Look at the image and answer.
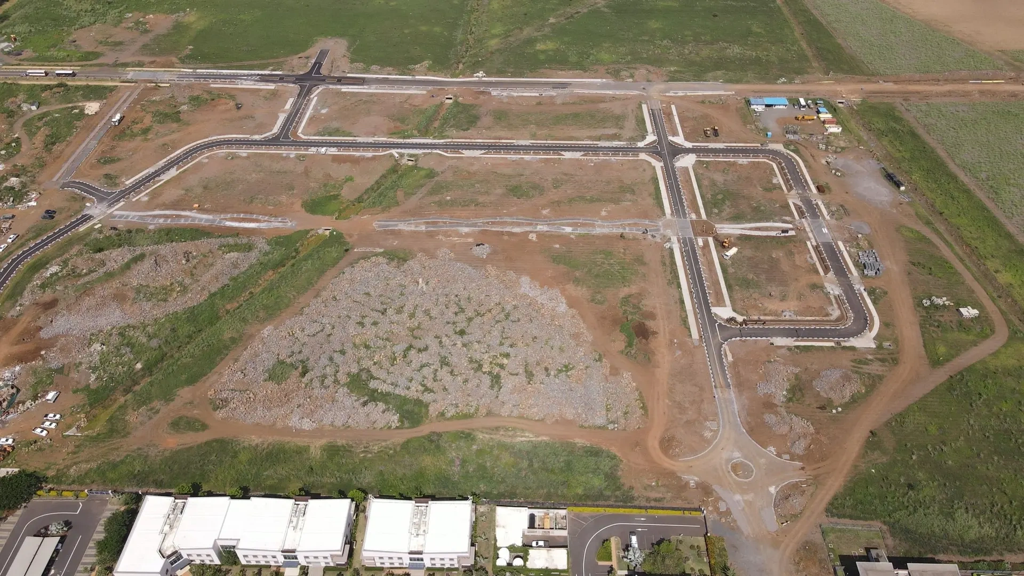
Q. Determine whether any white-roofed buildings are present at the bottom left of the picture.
Yes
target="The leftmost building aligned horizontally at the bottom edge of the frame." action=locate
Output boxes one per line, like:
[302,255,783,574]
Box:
[113,495,357,576]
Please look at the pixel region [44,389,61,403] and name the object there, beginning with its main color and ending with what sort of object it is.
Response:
white vehicle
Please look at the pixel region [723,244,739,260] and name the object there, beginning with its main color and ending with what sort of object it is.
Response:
white vehicle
